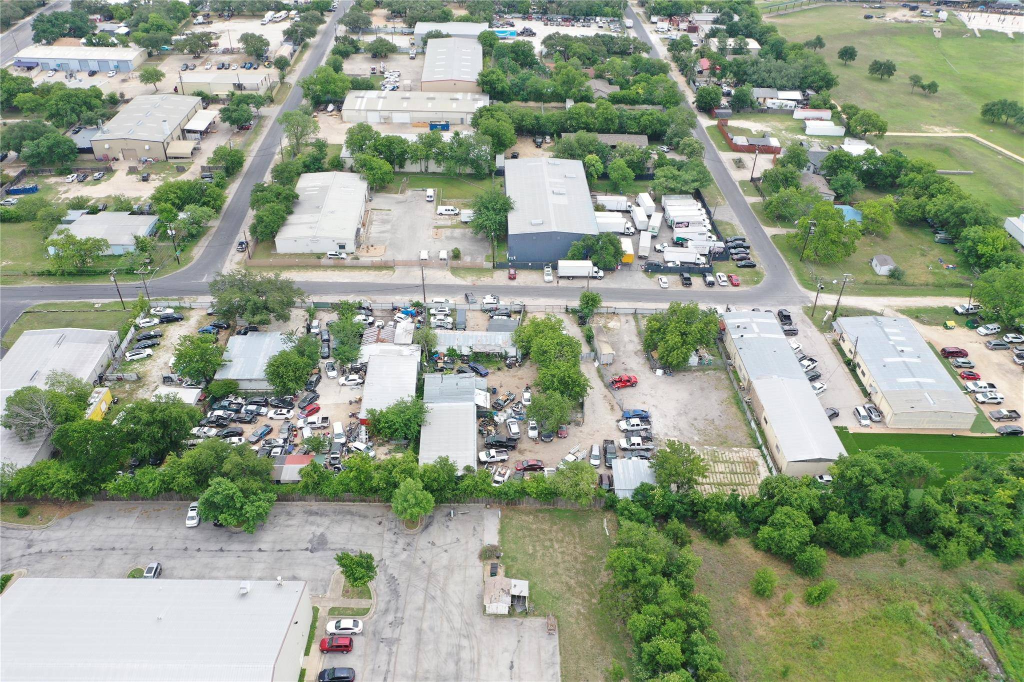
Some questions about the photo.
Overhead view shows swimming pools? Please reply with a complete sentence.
No, the scene contains no swimming pool.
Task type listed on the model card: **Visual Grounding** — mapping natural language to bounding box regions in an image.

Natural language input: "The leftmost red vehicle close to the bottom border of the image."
[316,635,356,655]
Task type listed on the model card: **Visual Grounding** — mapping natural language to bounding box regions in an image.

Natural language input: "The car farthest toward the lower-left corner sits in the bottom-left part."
[140,555,169,579]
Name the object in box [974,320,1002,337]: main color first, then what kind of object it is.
white car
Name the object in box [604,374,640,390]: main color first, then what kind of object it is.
red vehicle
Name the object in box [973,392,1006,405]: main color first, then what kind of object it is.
white vehicle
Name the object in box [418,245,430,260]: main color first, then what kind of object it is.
white vehicle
